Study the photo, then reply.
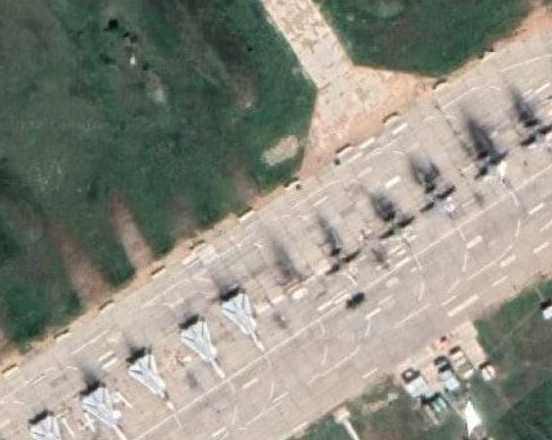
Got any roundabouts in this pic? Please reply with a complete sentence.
No, there's no roundabout here.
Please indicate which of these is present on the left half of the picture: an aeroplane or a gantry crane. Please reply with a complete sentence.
There is an aeroplane on the left half of the picture.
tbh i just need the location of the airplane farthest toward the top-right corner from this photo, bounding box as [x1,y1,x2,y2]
[520,122,552,160]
